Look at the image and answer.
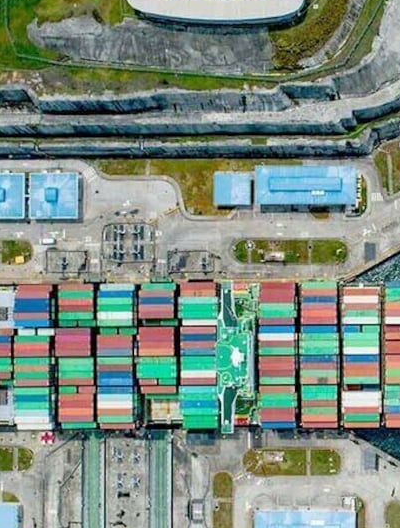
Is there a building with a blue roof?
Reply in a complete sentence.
Yes, the picture does show a building with a blue roof.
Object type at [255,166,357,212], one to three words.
building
